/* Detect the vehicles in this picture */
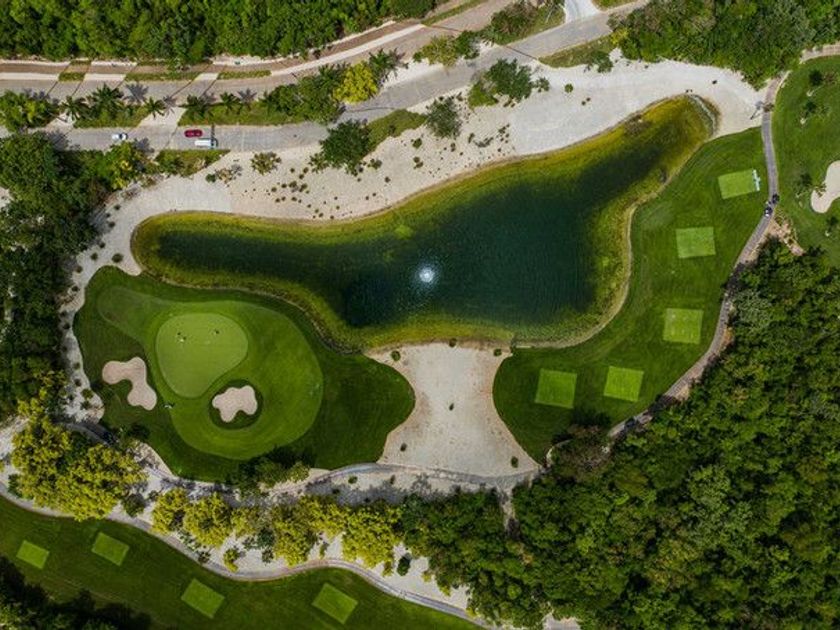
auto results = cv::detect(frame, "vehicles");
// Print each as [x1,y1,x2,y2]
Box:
[772,194,783,204]
[184,128,202,137]
[764,206,775,216]
[111,131,127,140]
[192,137,217,148]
